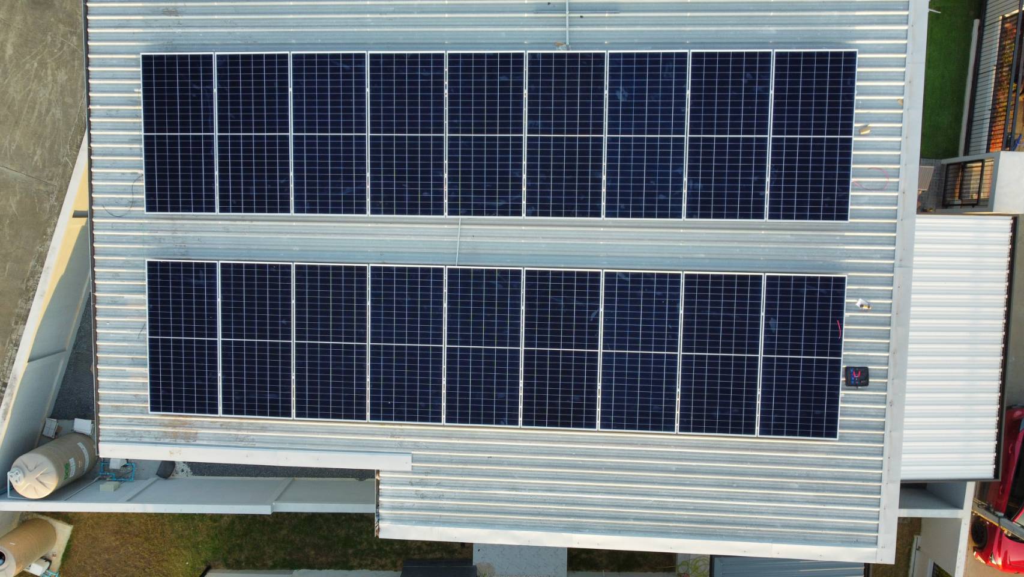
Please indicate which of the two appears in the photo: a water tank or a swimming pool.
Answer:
water tank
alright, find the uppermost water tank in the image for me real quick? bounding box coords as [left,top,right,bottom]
[9,434,94,497]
